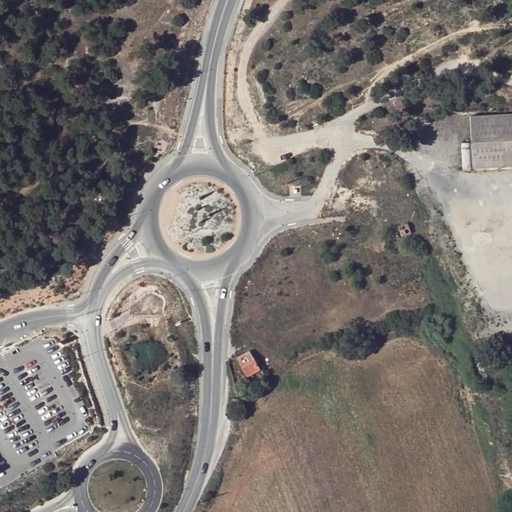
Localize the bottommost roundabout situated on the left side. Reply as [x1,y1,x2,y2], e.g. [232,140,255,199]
[72,443,162,512]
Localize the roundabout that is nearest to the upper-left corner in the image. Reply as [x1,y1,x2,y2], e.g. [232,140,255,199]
[143,160,257,274]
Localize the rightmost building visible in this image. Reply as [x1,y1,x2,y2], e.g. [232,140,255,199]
[470,114,512,170]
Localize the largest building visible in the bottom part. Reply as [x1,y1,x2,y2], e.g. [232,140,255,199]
[238,351,260,378]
